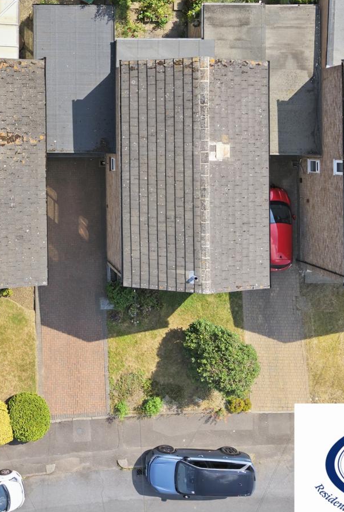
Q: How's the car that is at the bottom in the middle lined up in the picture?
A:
horizontally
